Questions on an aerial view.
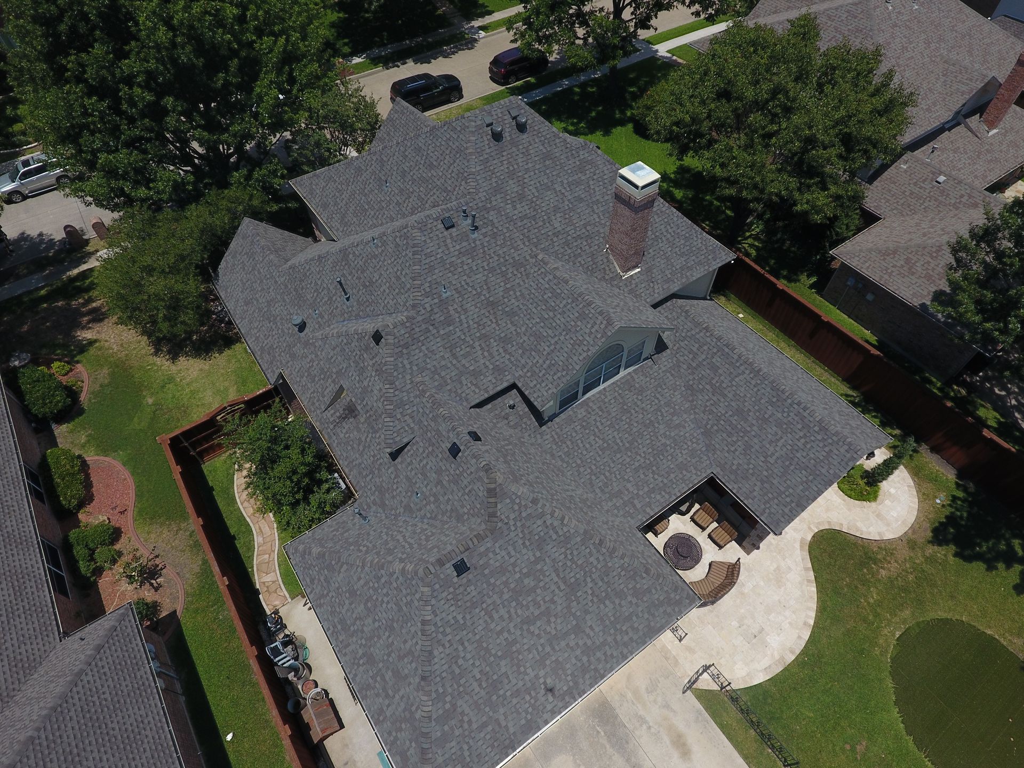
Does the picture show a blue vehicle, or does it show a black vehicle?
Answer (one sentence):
Visible in the photo is a black vehicle.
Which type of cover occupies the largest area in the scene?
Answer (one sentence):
What you mostly see from above here is buildings.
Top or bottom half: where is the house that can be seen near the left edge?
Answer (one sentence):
You can find the house that can be seen near the left edge in the bottom half.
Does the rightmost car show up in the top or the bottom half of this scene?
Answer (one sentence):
The rightmost car is in the top half of the image.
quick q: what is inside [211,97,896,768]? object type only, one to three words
house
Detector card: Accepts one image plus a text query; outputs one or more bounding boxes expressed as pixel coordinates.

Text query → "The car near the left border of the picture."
[0,148,82,203]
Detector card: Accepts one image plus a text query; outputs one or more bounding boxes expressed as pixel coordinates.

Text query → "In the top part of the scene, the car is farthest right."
[496,45,554,82]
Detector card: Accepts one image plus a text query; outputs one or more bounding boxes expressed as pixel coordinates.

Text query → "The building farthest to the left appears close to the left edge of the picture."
[0,358,207,768]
